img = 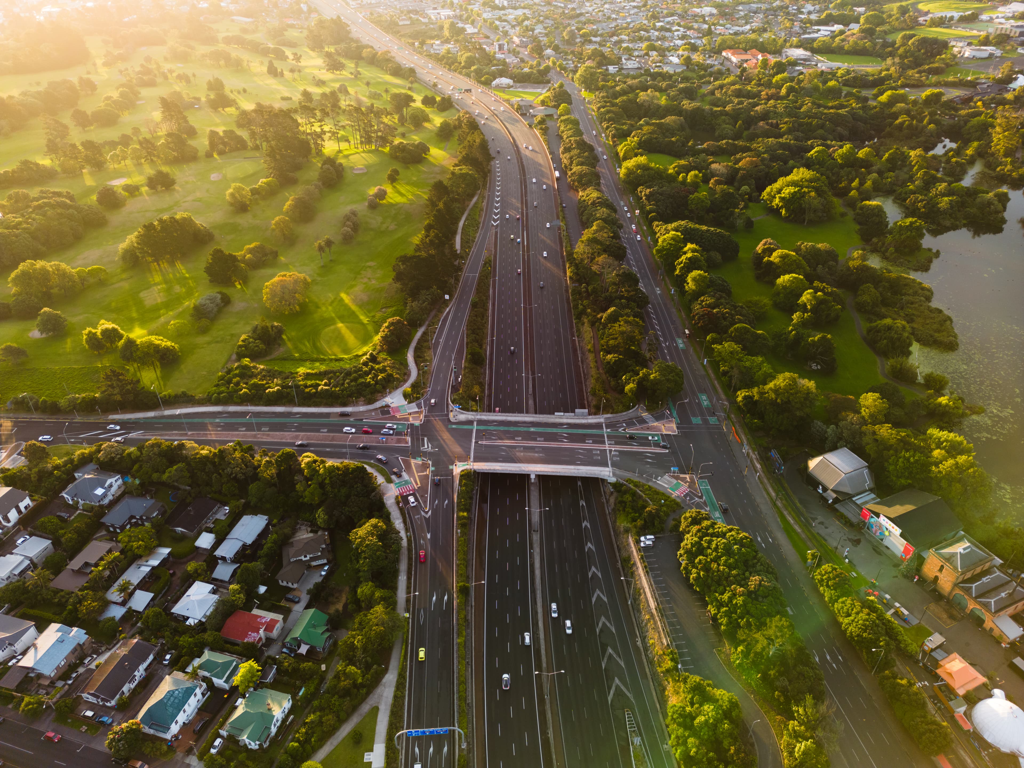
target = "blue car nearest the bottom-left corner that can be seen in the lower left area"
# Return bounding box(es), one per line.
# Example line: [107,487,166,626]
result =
[94,713,113,725]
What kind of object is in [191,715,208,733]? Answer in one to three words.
car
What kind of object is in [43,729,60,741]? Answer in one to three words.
vehicle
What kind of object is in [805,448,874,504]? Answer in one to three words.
building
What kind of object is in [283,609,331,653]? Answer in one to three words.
house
